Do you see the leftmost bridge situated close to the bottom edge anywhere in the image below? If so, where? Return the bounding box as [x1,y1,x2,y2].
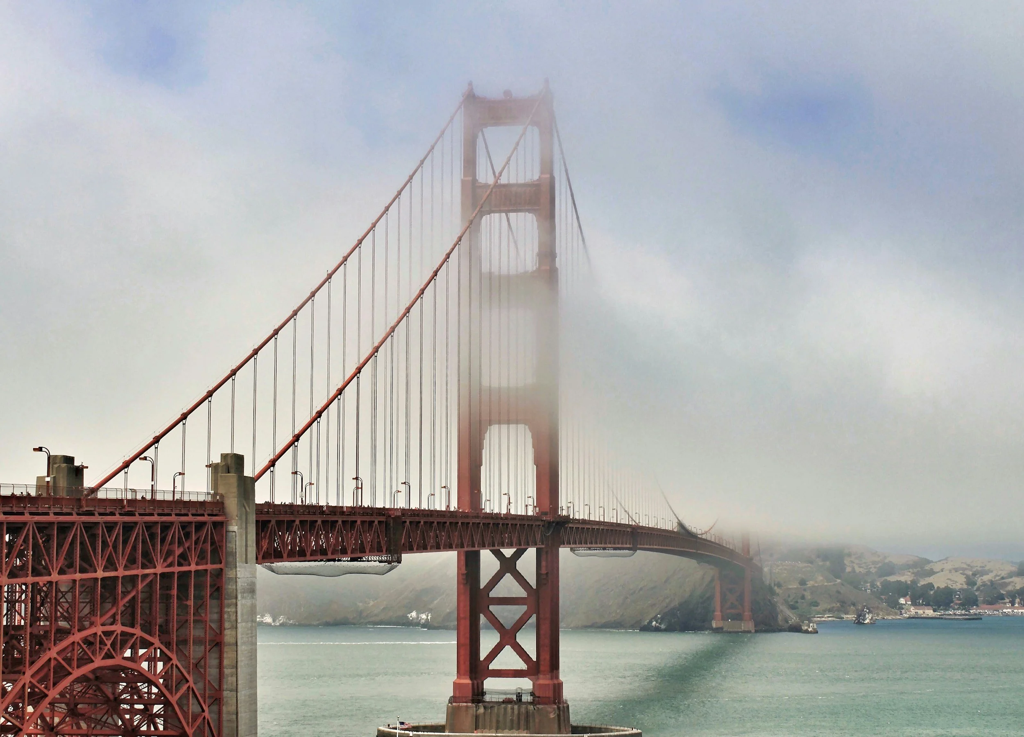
[0,495,228,737]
